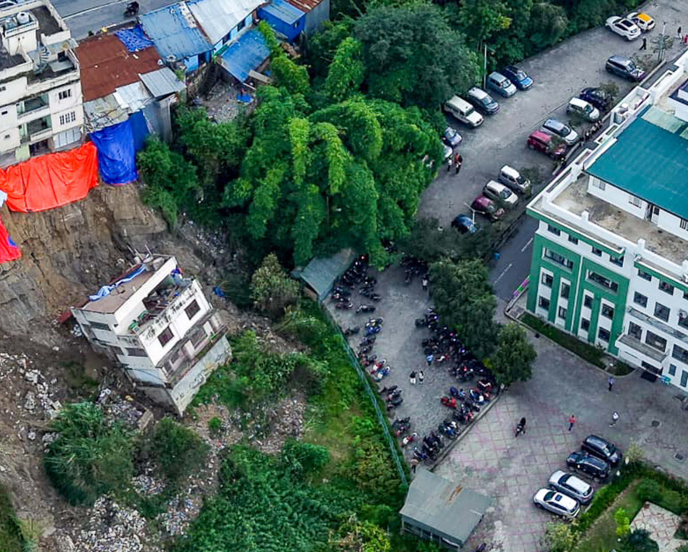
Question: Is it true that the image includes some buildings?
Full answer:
Yes, the frame does contain a building.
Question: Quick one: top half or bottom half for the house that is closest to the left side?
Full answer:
It is in the top half that the house that is closest to the left side appears.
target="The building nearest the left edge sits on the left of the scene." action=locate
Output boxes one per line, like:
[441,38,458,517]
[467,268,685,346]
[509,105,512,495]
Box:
[0,0,85,170]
